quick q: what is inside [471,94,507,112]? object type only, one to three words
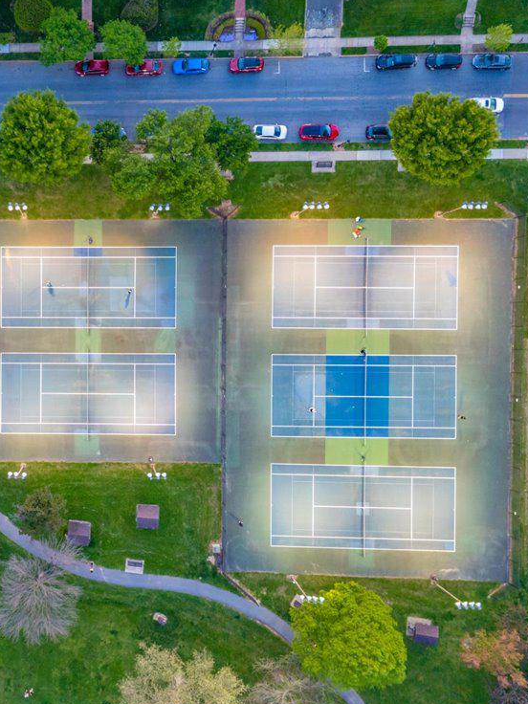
car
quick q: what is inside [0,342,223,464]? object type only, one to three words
tennis court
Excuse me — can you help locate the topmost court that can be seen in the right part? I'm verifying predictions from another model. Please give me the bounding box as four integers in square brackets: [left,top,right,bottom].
[230,217,515,342]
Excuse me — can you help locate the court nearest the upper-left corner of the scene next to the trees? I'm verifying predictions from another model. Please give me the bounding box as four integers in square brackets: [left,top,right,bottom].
[0,220,223,342]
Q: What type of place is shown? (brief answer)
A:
sports ground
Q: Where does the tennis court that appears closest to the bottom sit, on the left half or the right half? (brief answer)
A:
right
